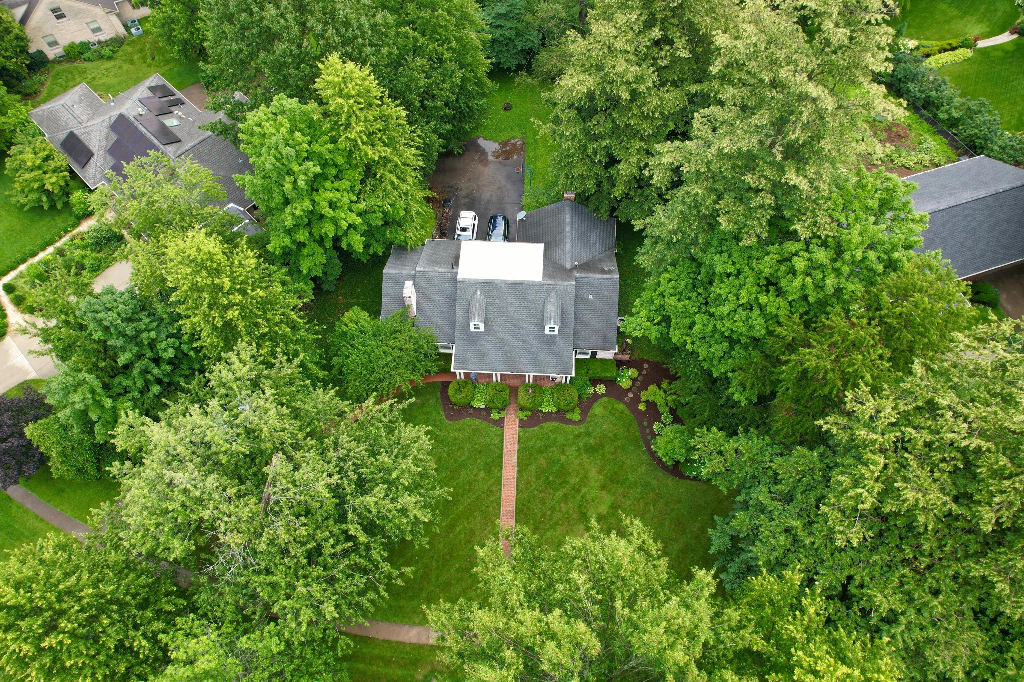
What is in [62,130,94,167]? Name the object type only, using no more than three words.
solar panel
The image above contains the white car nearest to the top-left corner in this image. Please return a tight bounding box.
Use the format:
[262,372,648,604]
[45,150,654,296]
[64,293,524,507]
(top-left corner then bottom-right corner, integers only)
[453,210,479,240]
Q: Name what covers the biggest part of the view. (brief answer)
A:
trees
